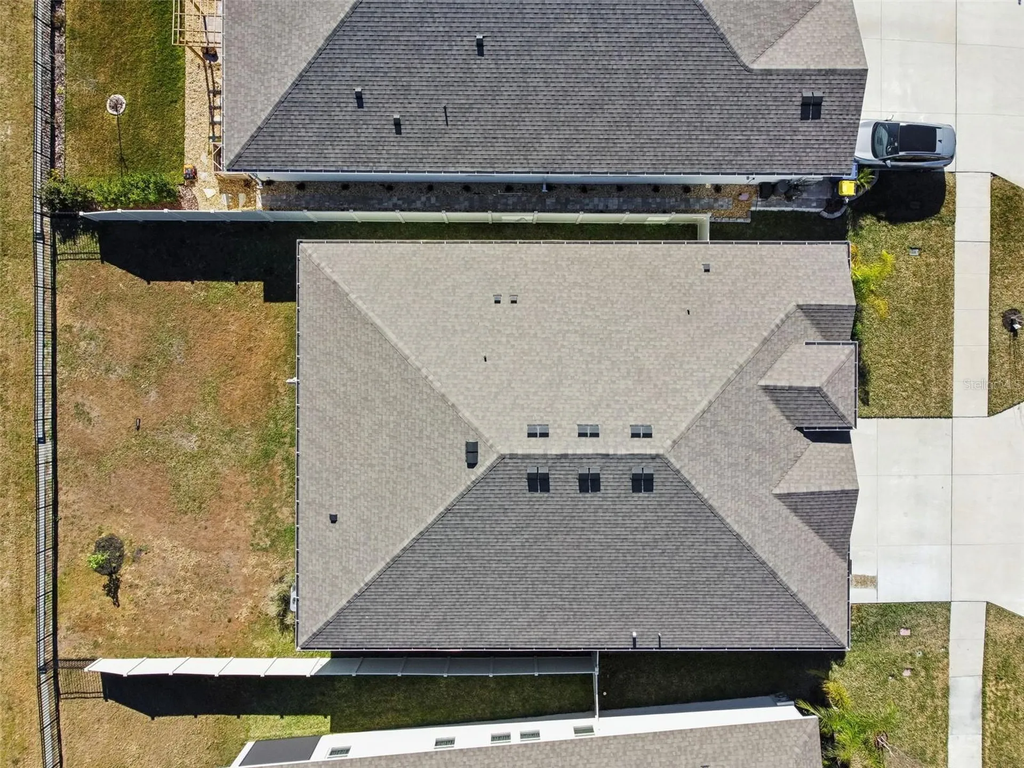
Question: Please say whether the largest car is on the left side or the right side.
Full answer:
You can find the largest car on the right side of the picture.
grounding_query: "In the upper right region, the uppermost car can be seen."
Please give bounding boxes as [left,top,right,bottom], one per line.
[852,112,957,172]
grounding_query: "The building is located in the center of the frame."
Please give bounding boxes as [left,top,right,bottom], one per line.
[287,241,858,650]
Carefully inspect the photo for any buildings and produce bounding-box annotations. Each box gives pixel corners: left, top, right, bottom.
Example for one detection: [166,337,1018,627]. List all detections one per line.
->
[228,694,822,768]
[287,241,858,650]
[223,0,867,193]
